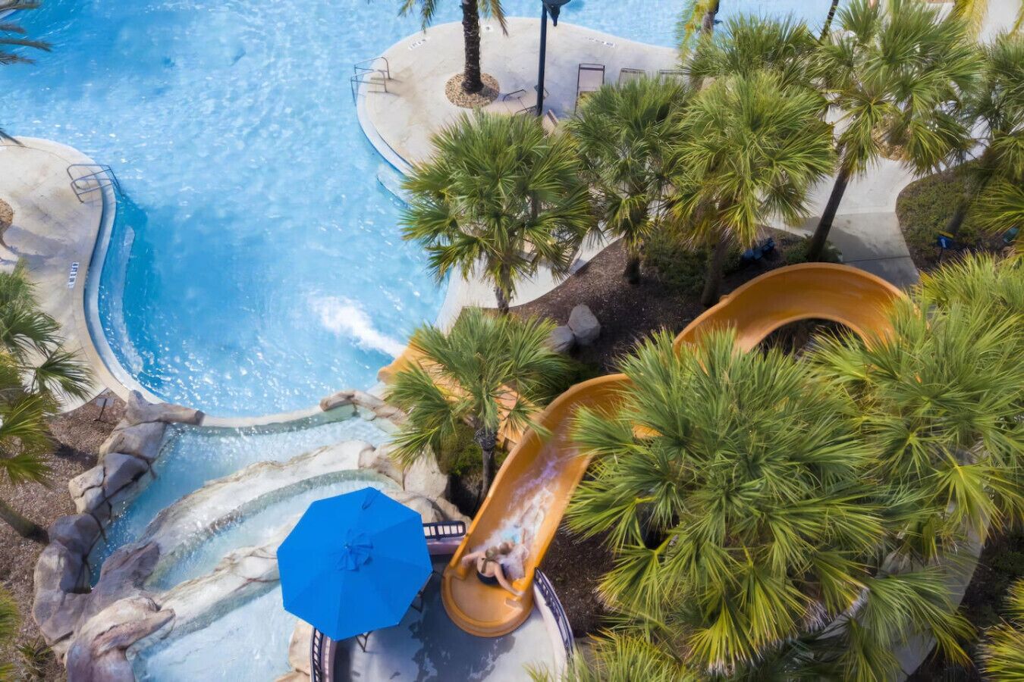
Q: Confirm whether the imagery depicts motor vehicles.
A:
No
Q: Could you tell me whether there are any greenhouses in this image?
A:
No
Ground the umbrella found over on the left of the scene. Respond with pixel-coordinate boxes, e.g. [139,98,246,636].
[276,487,434,643]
